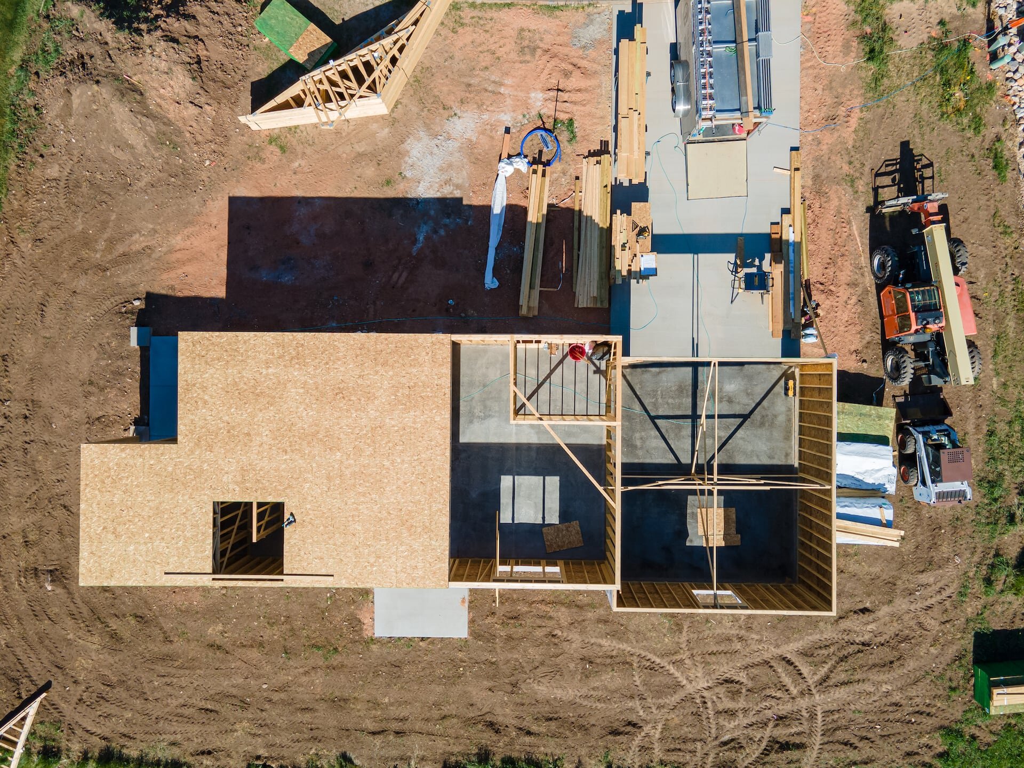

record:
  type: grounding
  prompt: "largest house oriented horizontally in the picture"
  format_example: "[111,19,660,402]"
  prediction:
[79,331,838,616]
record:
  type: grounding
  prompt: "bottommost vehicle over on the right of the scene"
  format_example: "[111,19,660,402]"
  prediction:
[891,395,974,505]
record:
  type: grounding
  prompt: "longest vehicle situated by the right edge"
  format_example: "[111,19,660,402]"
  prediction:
[863,167,983,392]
